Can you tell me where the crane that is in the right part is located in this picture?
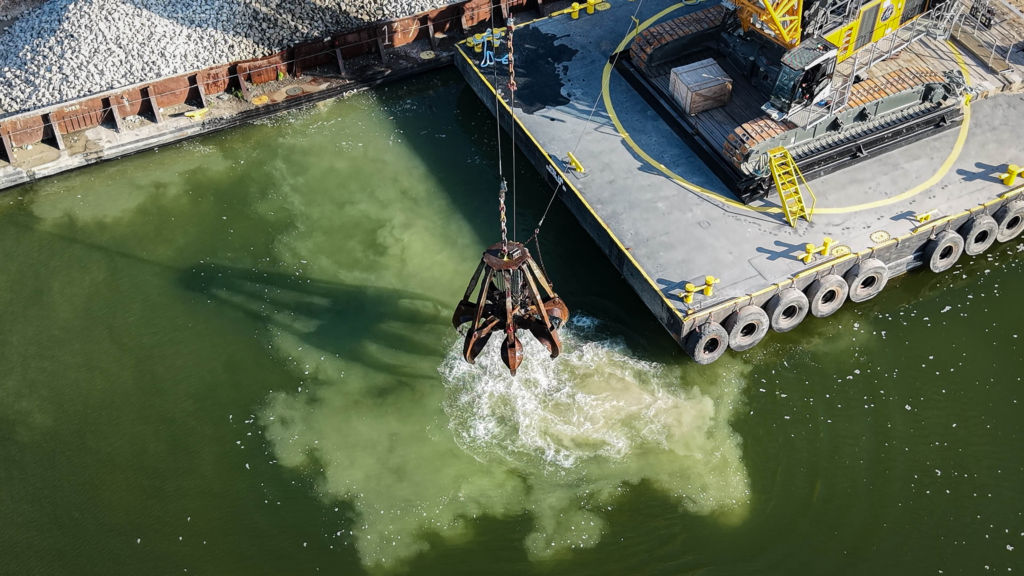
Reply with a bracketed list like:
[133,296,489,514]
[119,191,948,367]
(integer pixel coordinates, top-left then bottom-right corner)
[628,0,955,171]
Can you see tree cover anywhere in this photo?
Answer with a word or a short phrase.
No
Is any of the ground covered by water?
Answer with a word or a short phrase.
Yes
